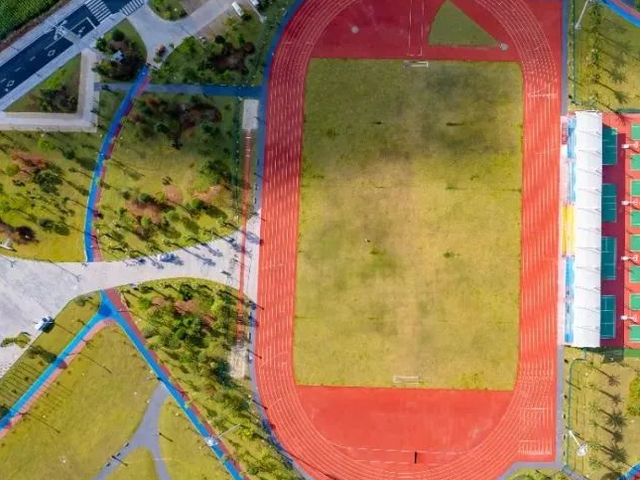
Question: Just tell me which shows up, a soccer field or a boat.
soccer field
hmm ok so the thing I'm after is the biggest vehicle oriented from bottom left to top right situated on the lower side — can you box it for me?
[38,317,52,329]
